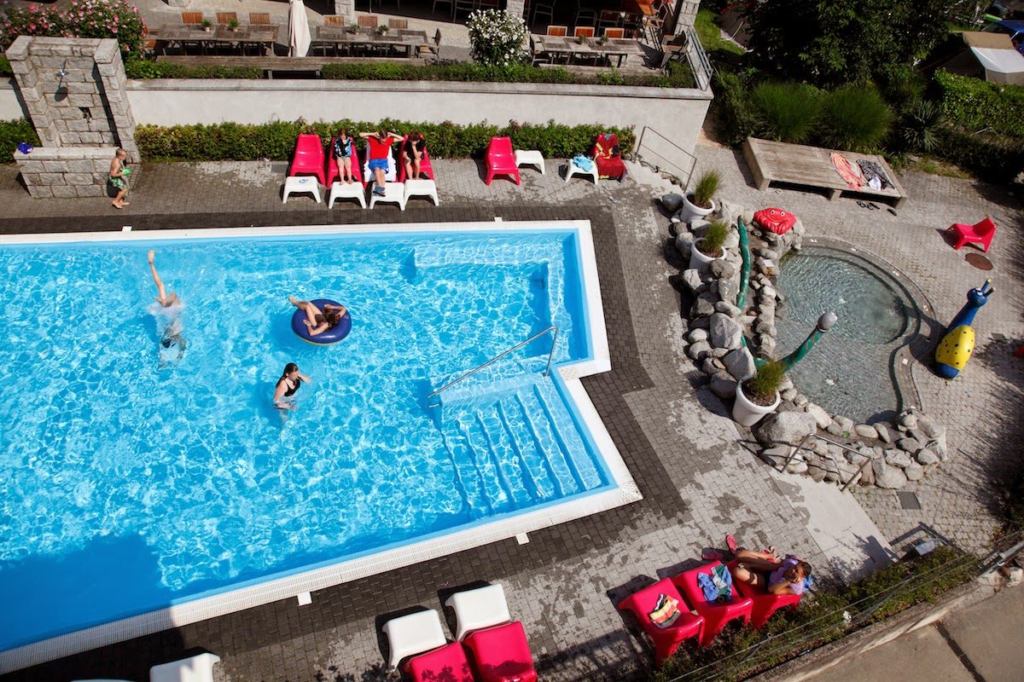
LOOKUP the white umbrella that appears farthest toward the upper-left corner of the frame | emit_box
[278,0,308,56]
